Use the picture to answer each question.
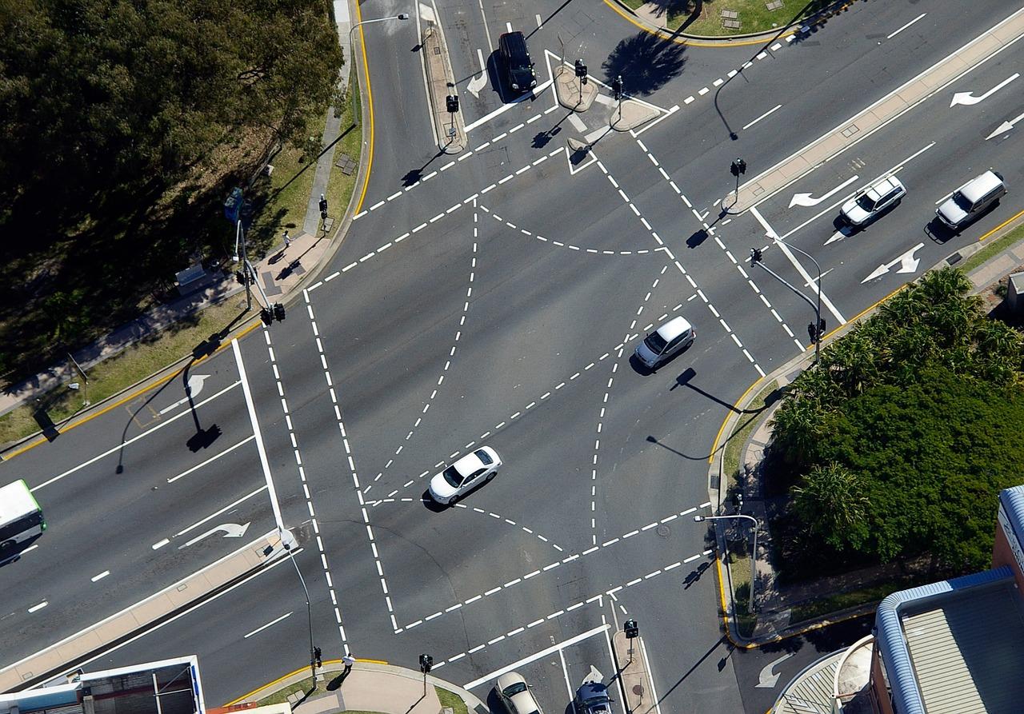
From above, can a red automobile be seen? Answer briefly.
No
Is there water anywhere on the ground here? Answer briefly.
No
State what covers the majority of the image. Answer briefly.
paved ground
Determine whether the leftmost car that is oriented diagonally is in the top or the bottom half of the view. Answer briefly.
bottom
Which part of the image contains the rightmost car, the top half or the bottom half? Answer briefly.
top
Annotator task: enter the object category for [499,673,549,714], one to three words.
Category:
car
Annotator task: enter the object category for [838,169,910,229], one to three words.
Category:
car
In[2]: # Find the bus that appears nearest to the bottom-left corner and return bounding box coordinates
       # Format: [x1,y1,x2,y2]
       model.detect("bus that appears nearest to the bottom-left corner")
[0,480,48,561]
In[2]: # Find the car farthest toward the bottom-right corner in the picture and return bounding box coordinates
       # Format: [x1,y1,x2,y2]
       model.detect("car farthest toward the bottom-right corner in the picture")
[577,683,616,714]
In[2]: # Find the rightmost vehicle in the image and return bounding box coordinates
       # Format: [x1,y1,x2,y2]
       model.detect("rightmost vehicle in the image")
[930,166,1009,238]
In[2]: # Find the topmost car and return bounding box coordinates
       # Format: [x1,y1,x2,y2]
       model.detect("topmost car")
[495,20,539,91]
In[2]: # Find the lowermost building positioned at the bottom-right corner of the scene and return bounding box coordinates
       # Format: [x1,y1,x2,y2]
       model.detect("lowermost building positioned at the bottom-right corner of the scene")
[773,562,1024,714]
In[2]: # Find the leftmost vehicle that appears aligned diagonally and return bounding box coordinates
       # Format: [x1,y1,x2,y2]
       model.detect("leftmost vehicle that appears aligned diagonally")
[425,444,502,507]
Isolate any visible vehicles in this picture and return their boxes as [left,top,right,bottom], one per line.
[635,312,699,370]
[838,169,910,229]
[577,683,616,714]
[0,480,48,561]
[499,673,549,714]
[495,20,539,91]
[425,444,502,507]
[930,166,1009,238]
